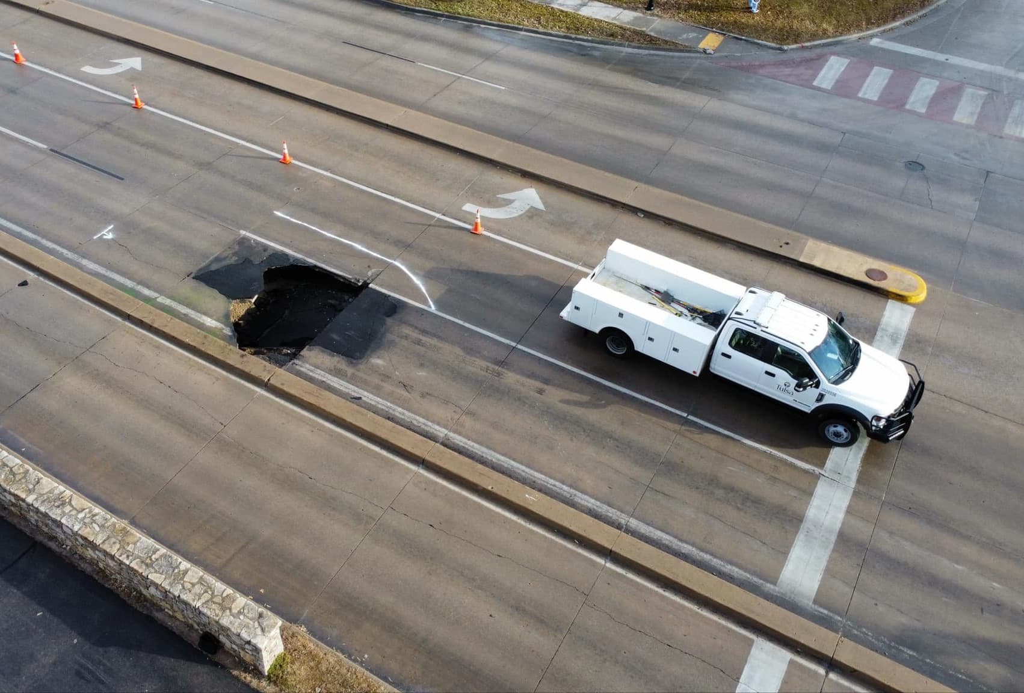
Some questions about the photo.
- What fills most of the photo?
paved ground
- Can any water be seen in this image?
No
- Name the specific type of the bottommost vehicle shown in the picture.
truck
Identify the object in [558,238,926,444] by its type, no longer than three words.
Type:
truck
